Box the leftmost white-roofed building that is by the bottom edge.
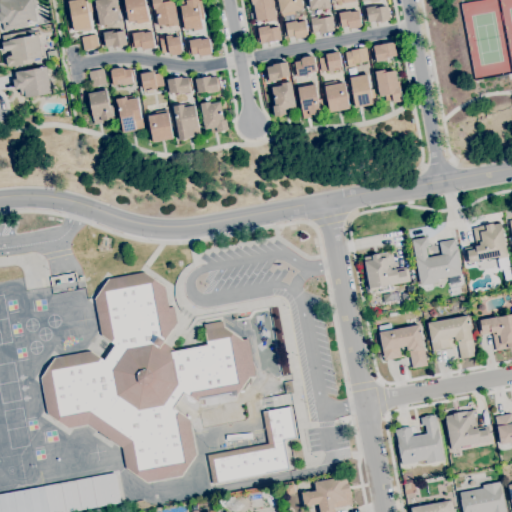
[0,472,124,512]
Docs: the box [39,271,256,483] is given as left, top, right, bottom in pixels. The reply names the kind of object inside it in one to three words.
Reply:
building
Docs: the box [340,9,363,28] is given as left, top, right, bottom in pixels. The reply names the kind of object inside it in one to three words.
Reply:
house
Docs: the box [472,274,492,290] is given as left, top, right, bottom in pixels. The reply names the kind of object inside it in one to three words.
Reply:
swimming pool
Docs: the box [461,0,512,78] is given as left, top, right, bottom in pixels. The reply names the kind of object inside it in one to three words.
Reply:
tennis court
